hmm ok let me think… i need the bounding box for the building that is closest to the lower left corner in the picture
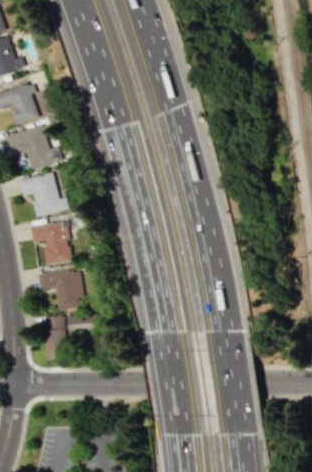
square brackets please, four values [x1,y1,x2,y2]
[46,316,66,360]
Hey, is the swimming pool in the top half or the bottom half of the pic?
top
